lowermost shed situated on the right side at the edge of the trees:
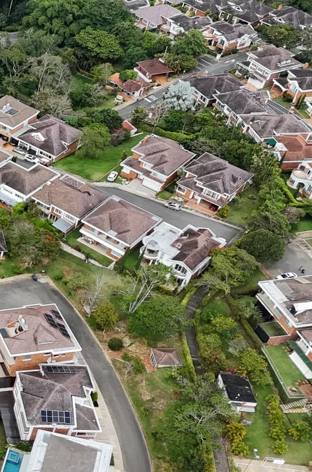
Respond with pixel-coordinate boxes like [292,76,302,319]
[215,374,258,411]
